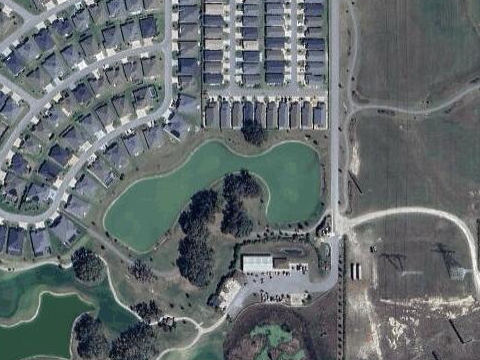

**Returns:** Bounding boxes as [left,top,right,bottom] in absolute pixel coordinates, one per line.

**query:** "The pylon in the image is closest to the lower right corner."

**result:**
[450,268,480,281]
